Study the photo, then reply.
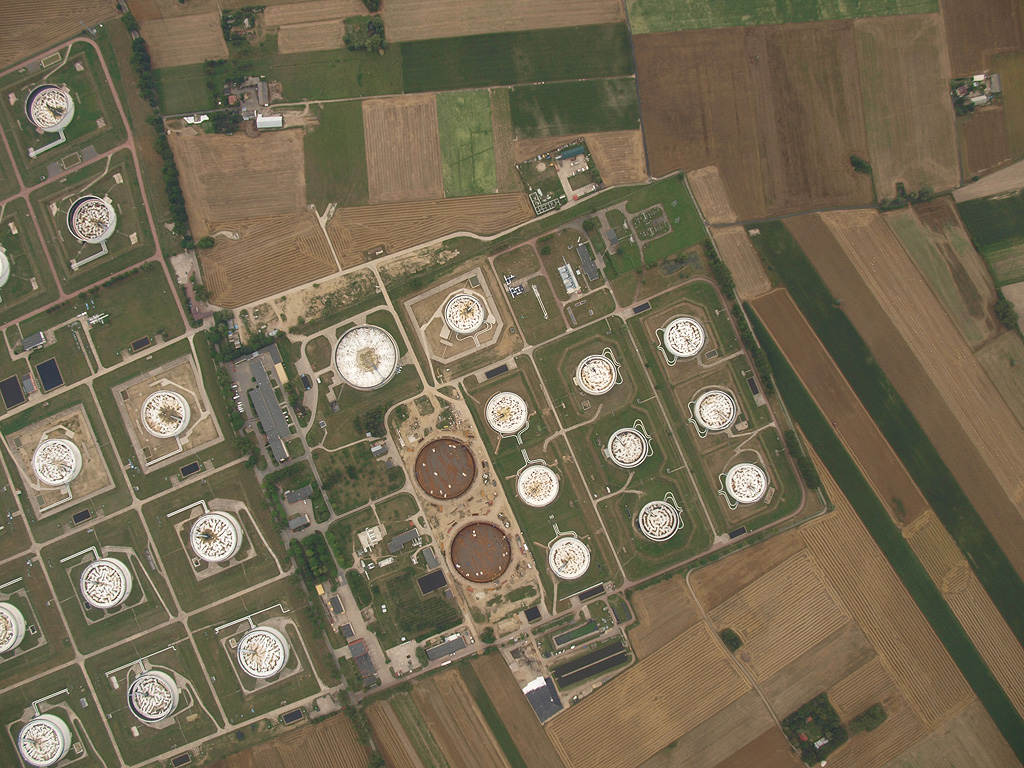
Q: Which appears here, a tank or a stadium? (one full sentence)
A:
This aerial view contains a tank.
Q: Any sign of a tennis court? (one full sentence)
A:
No, I can't see a single tennis court in this photo.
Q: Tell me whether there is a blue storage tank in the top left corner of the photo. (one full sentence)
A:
No, in the top left corner of the photo there is no blue storage tank.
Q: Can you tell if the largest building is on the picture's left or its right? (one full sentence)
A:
It is on the left.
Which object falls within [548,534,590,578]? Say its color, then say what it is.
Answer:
white storage tank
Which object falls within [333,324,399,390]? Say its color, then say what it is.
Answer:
white storage tank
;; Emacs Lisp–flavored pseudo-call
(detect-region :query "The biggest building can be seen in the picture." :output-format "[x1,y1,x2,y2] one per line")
[249,360,292,461]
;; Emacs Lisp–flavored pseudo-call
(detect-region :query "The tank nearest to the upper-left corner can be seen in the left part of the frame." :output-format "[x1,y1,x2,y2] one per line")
[25,84,75,132]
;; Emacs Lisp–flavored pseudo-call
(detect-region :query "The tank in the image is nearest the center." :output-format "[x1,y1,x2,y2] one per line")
[487,391,529,433]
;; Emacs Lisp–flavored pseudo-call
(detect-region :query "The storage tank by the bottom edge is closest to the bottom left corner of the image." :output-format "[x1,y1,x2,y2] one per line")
[16,715,70,767]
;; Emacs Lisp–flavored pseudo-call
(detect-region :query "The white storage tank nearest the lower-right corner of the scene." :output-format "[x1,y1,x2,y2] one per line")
[724,462,767,503]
